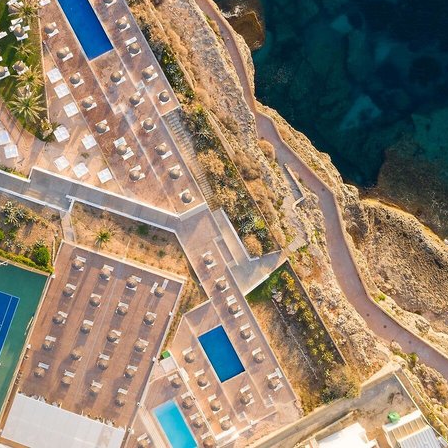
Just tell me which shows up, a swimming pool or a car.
swimming pool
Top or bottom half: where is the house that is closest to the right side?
bottom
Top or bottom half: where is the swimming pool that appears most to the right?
bottom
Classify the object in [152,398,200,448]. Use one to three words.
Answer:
swimming pool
